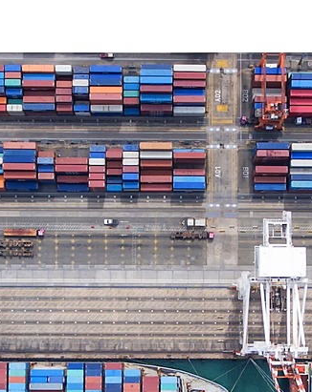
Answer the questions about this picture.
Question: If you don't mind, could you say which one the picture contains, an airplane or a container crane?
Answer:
container crane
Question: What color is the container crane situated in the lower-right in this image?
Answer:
white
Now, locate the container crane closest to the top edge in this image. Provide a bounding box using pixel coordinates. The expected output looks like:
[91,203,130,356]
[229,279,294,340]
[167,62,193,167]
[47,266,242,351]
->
[249,55,288,136]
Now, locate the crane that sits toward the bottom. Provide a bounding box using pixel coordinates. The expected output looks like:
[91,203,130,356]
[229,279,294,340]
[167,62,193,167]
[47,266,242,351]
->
[226,208,309,392]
